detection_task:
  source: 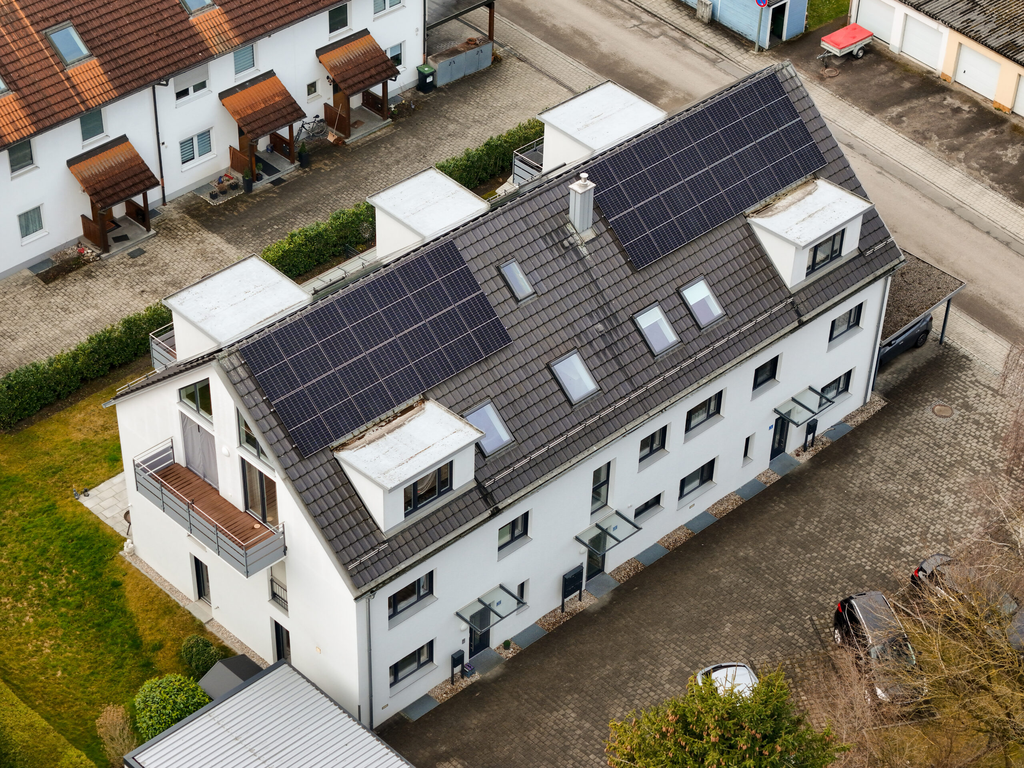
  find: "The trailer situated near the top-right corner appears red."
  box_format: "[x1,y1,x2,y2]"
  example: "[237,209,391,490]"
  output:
[813,23,874,68]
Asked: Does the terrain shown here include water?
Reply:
No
